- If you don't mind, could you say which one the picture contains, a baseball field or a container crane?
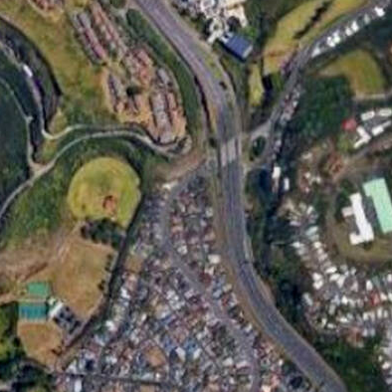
baseball field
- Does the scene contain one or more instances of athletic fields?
Yes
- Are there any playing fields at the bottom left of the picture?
Yes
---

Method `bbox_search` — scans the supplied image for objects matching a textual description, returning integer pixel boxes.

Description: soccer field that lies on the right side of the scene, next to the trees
[326,51,387,94]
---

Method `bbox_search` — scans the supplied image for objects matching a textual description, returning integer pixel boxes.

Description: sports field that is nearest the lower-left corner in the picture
[16,319,70,369]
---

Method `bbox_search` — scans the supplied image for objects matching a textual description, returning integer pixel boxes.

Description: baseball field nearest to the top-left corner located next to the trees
[68,156,140,227]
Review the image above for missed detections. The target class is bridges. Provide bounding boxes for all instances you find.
[215,131,242,166]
